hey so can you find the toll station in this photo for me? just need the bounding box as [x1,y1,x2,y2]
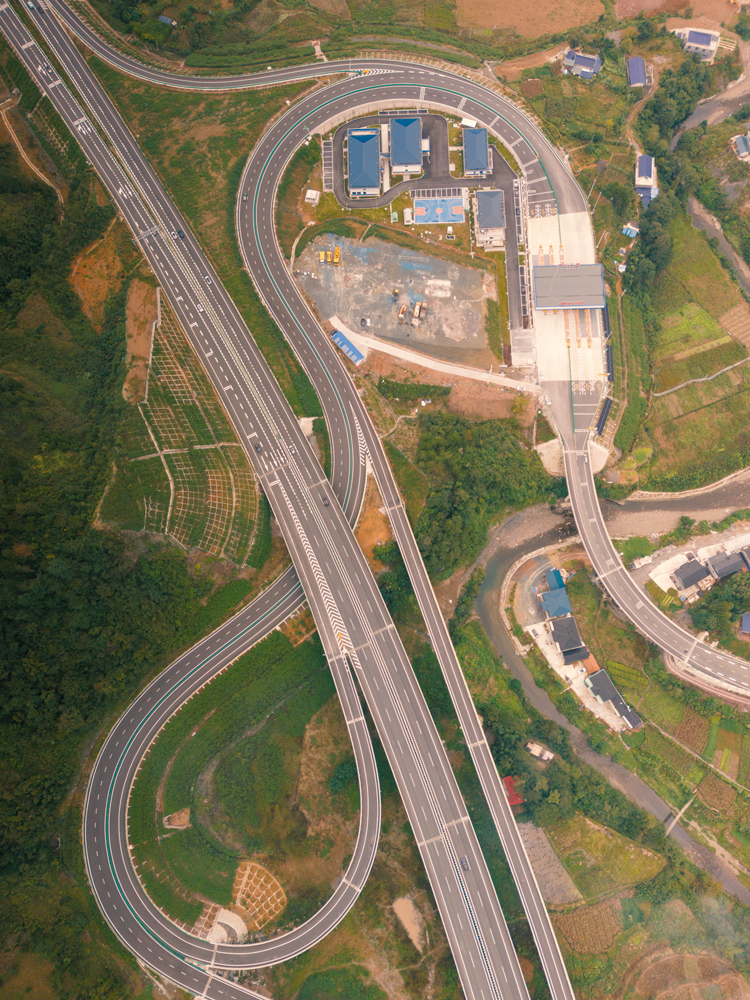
[524,205,606,391]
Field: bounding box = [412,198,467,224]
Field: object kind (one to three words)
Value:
basketball court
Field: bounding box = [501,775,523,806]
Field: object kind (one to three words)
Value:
shed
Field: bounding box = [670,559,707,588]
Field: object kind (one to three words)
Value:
house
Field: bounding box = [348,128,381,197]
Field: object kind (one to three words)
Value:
building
